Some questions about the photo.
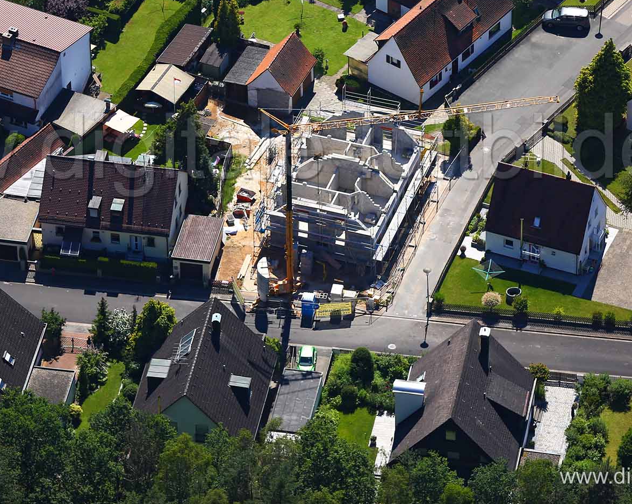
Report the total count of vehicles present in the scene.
two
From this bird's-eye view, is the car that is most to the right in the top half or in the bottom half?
top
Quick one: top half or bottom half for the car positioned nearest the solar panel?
bottom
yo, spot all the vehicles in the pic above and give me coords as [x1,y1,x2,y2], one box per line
[292,338,320,370]
[541,9,591,32]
